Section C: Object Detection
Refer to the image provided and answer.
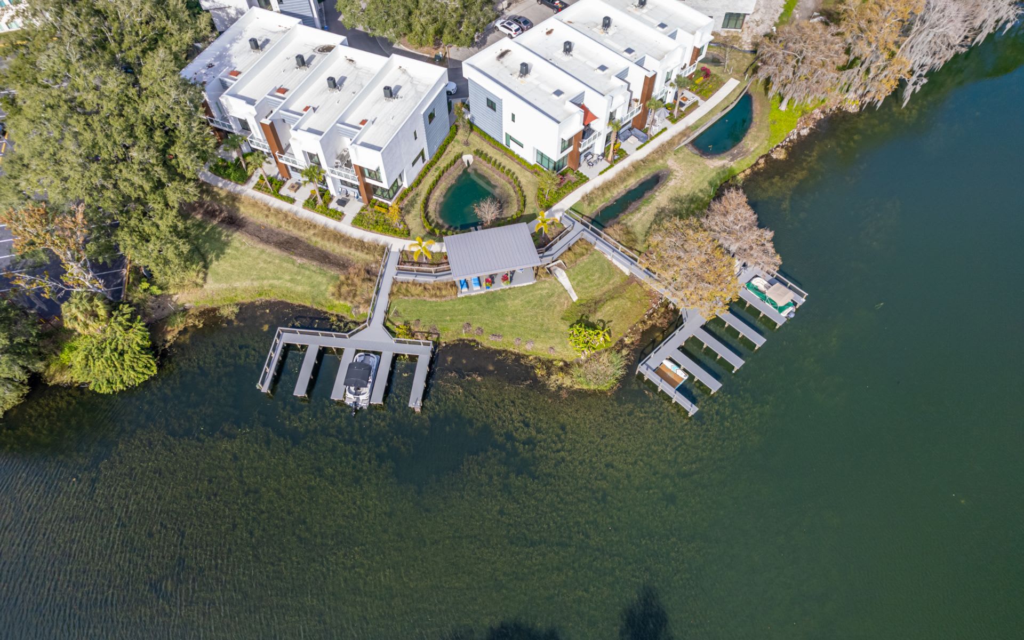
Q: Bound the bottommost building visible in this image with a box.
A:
[443,222,541,299]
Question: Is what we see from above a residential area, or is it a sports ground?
residential area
